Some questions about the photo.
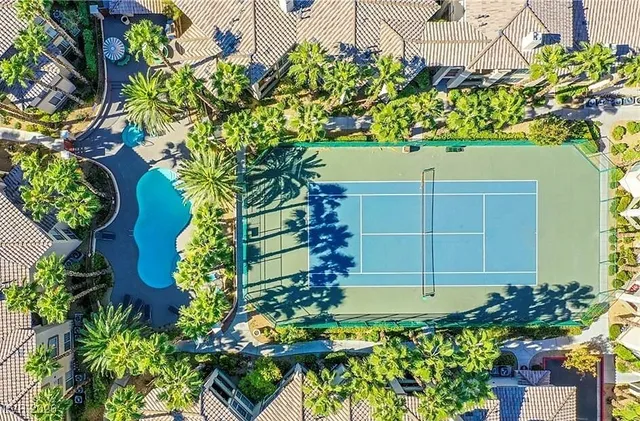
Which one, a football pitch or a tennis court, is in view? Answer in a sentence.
There is a tennis court in the scene.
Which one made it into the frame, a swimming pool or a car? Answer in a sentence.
Of the two, only a swimming pool appears.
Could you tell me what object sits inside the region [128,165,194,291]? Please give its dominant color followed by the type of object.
blue swimming pool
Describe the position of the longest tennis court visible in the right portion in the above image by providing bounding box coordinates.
[247,147,600,322]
